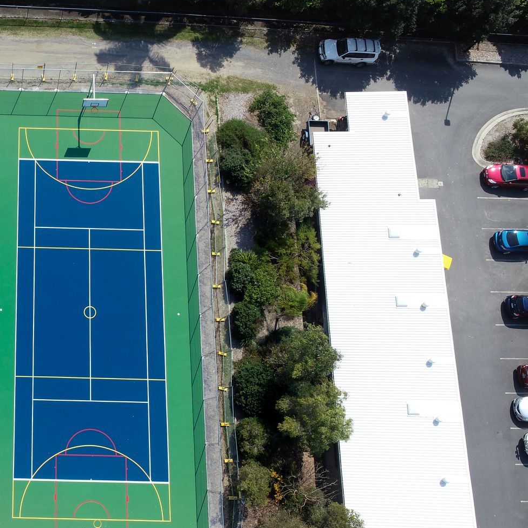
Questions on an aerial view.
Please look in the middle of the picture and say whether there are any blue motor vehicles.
No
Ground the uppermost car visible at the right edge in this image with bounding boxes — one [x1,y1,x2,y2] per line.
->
[482,160,528,189]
